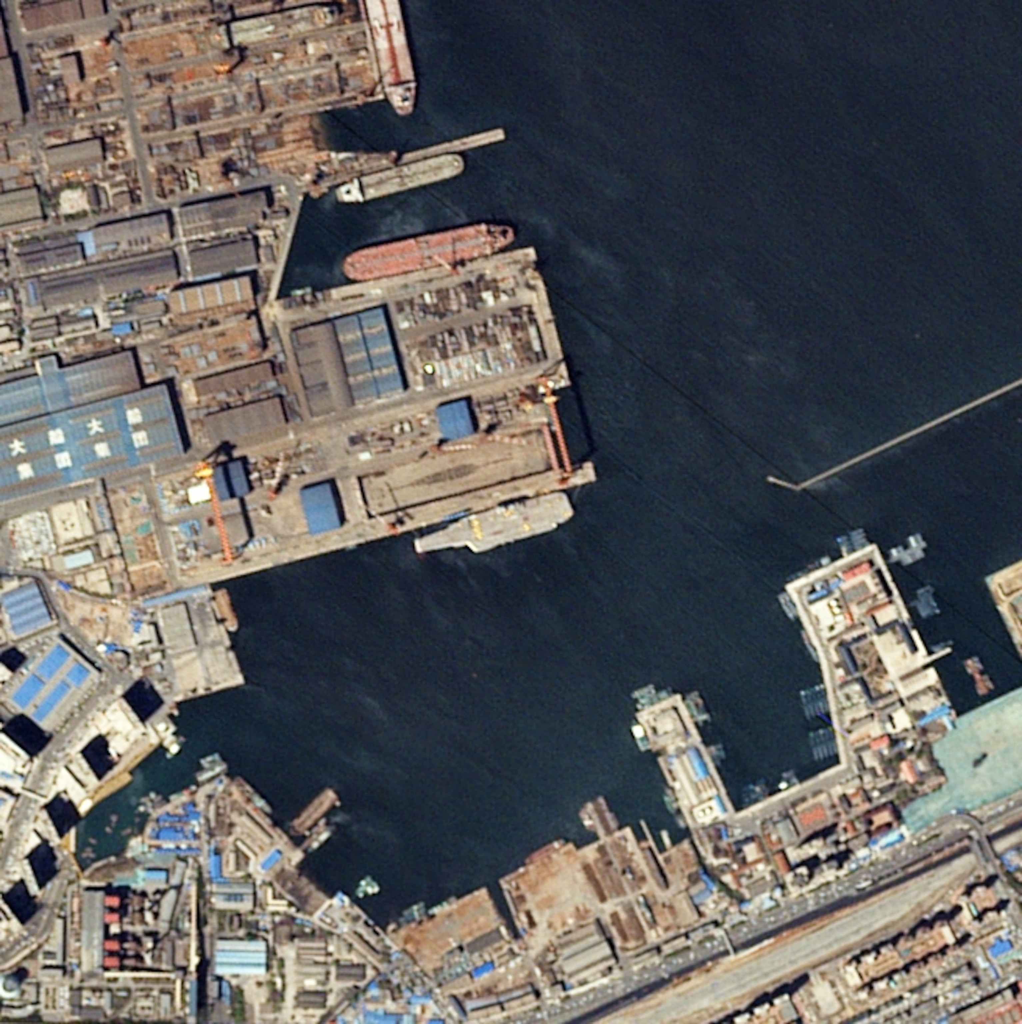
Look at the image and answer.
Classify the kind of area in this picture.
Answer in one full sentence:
It's a port.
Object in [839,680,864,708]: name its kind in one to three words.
shed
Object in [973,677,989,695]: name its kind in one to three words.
ship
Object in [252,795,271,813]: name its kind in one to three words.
boat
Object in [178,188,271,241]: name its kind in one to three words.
building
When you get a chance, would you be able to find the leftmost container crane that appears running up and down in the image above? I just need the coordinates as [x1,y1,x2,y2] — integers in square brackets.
[196,460,237,565]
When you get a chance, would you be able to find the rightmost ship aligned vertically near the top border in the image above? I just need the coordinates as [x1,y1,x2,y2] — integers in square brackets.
[362,0,415,118]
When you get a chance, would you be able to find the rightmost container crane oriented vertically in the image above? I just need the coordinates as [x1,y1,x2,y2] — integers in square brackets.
[541,374,576,482]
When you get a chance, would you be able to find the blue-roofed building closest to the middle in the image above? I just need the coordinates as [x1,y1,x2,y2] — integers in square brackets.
[437,398,475,440]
